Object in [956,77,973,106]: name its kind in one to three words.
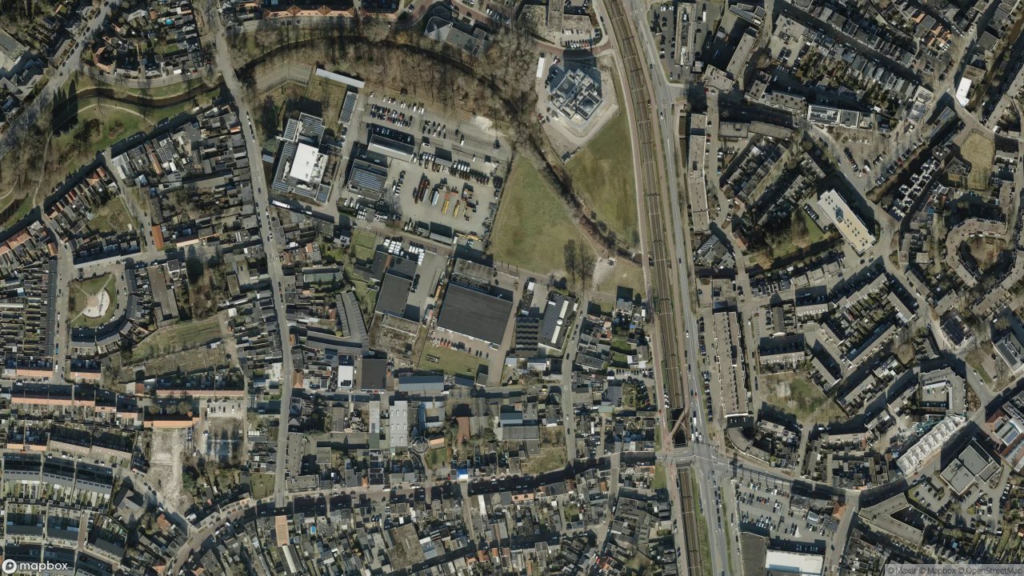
house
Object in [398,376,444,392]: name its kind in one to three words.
shed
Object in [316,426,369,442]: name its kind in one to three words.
shed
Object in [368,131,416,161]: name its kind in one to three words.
building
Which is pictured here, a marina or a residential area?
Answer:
residential area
